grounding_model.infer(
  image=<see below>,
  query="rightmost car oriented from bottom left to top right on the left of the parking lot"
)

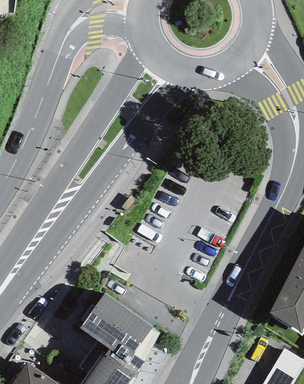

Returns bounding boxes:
[28,296,46,320]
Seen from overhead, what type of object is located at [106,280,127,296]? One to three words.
car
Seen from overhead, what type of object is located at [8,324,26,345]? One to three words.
car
